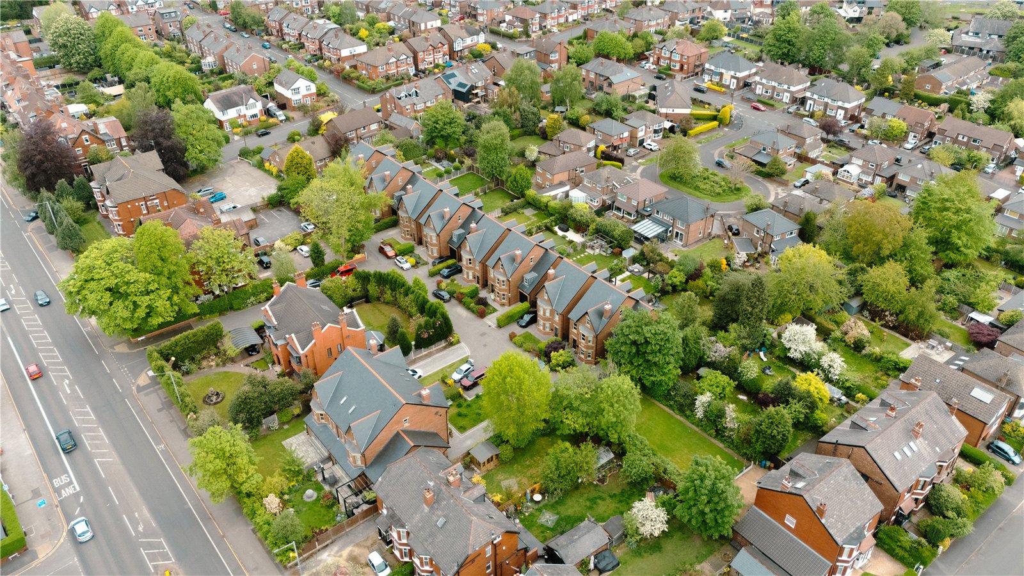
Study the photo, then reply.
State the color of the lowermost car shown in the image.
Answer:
white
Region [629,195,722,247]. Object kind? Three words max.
house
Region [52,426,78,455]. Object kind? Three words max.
truck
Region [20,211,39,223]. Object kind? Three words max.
vehicle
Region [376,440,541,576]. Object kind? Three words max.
house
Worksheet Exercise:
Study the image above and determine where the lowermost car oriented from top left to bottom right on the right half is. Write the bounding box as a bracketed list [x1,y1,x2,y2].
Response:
[987,439,1023,465]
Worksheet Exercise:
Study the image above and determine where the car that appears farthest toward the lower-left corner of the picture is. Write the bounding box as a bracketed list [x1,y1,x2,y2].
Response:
[68,515,94,547]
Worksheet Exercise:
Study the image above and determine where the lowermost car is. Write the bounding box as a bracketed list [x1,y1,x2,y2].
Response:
[364,545,392,576]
